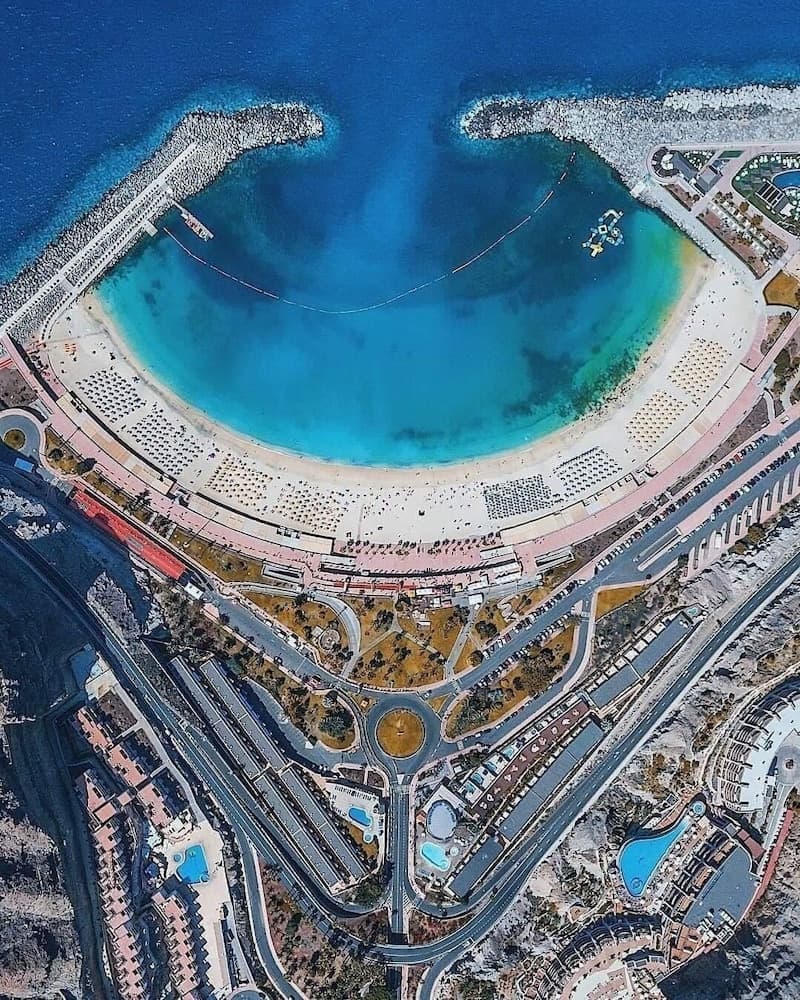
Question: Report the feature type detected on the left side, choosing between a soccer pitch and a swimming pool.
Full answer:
Visible on the left side is a swimming pool.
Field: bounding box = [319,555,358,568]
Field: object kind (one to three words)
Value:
building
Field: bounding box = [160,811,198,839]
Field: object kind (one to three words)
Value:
building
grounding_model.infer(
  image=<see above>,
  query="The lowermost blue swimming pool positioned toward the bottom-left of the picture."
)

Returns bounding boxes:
[172,844,209,884]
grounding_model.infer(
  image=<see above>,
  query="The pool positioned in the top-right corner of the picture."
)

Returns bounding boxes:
[772,169,800,190]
